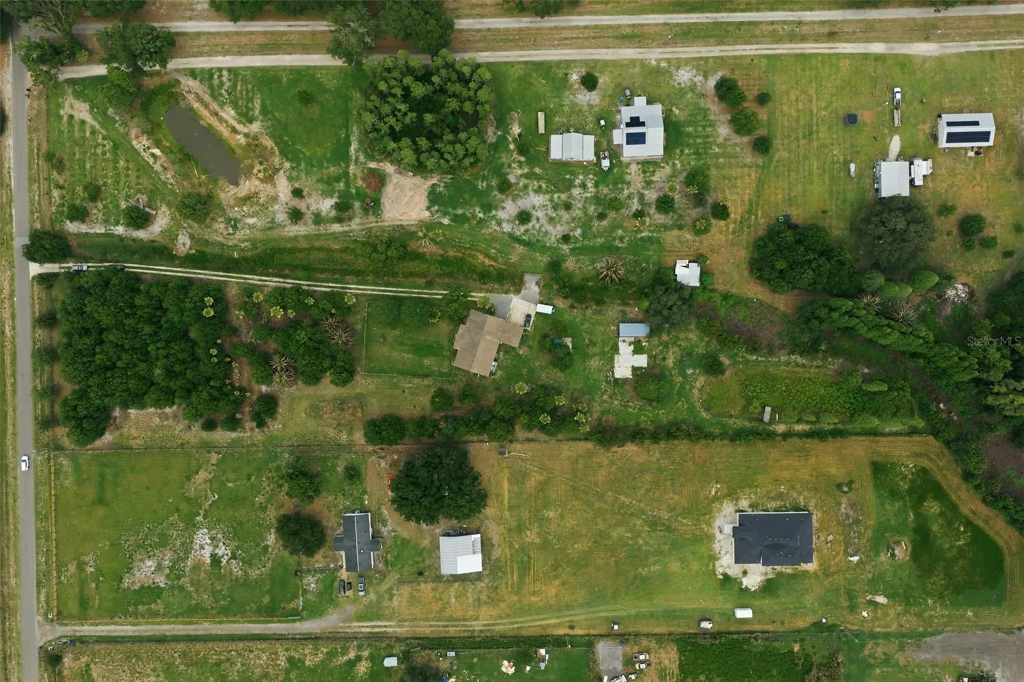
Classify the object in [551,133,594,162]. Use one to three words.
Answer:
shed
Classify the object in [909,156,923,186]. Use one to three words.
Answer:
camper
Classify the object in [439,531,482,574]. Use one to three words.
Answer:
barn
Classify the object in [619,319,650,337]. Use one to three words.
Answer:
shed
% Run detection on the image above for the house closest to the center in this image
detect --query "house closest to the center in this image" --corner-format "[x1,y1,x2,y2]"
[454,309,524,377]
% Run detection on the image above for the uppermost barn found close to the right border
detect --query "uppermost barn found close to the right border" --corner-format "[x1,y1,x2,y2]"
[935,112,996,149]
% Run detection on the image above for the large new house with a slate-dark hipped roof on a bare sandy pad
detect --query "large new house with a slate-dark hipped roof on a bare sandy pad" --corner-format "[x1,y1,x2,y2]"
[731,512,813,566]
